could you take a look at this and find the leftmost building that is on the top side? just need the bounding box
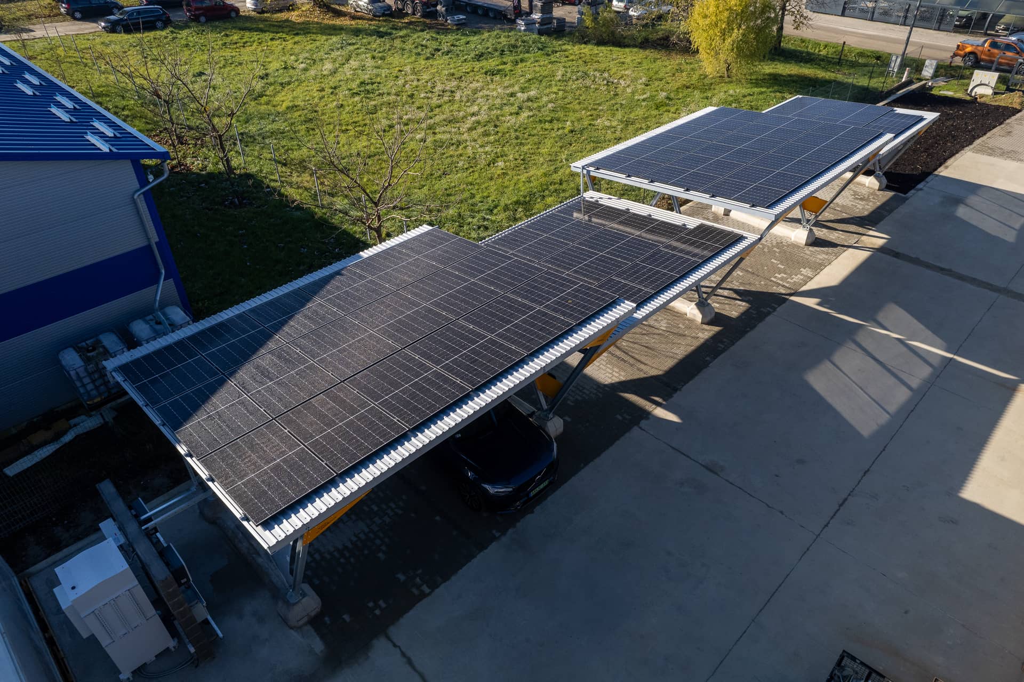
[0,45,197,422]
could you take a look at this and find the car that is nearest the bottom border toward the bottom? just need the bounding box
[427,392,563,509]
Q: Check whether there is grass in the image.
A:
Yes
